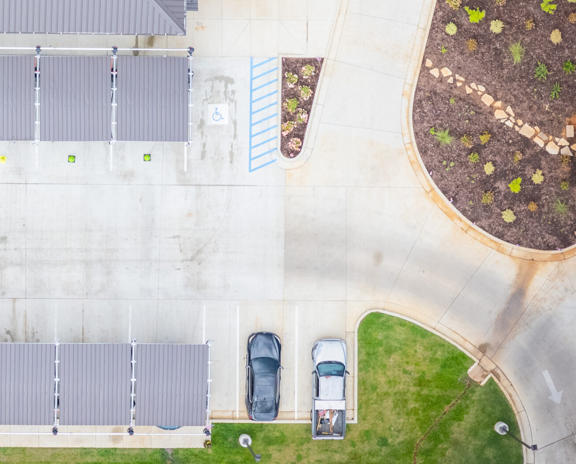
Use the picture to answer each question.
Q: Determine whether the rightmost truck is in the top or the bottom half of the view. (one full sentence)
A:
Seen from above, the rightmost truck lies in the bottom half of the view.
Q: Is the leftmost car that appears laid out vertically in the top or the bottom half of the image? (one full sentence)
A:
Seen from above, the leftmost car that appears laid out vertically lies in the bottom half of the view.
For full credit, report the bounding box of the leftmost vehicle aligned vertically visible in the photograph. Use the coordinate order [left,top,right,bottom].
[243,332,285,421]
